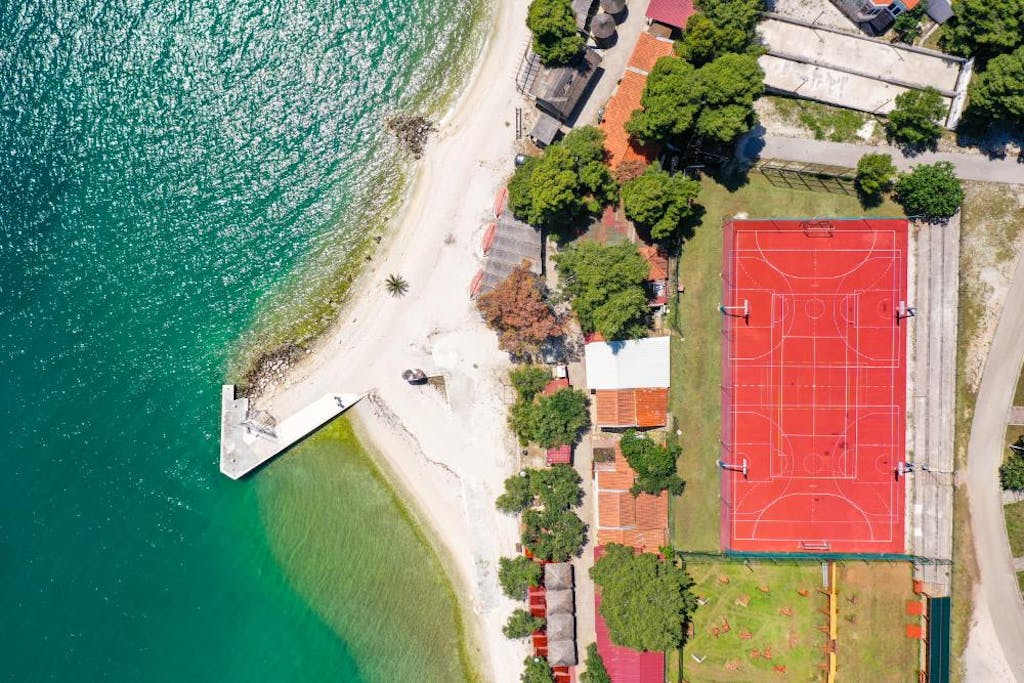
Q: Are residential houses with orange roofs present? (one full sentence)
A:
Yes, the image includes a residential house with an orange roof.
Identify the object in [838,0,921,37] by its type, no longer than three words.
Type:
house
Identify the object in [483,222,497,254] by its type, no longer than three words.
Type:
boat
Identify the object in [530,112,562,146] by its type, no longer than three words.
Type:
shed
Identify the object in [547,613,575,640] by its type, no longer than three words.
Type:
building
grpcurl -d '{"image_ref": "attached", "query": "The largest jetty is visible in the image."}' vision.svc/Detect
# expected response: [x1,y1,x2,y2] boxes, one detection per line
[220,385,363,479]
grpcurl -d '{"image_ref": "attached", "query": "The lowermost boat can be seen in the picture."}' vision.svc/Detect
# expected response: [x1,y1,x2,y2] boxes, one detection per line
[470,269,483,297]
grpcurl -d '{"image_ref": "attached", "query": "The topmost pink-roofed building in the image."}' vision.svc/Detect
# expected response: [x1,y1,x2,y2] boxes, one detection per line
[644,0,692,37]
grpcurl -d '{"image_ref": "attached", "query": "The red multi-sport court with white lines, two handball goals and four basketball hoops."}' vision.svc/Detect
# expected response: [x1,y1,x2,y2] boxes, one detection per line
[721,219,908,552]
